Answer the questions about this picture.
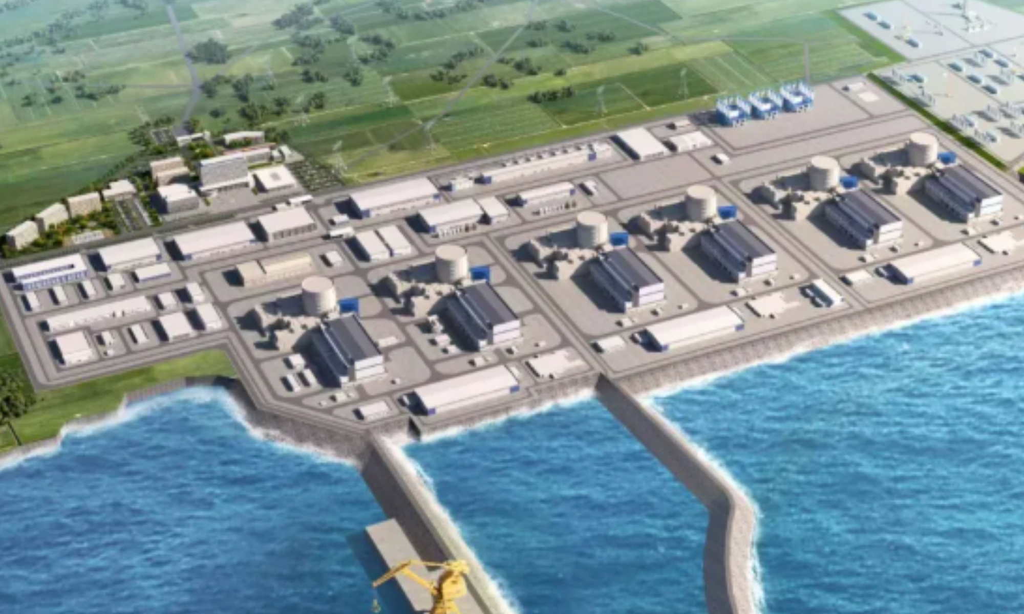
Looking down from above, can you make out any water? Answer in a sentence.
Yes, there is water in the image.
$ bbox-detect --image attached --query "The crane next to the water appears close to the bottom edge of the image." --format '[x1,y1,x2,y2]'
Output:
[372,558,469,614]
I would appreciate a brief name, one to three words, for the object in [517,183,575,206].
building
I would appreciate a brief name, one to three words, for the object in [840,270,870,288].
shed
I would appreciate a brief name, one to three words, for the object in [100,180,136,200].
house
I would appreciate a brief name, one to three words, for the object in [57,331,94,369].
building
